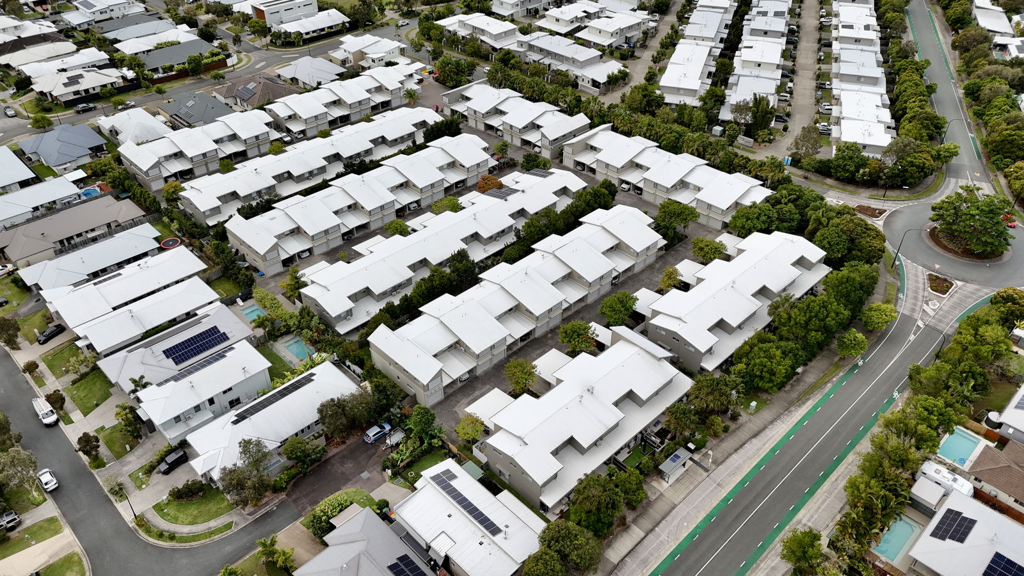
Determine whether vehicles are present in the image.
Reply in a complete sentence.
Yes, a vehicle appears in the view.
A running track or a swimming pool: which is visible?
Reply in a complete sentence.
The one in the frame is a swimming pool.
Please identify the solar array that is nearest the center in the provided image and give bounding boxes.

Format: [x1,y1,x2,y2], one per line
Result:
[484,186,523,200]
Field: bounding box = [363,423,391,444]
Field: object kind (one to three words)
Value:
car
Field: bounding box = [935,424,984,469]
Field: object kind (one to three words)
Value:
swimming pool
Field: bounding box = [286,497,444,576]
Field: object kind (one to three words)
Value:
house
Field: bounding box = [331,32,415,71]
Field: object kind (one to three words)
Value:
house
